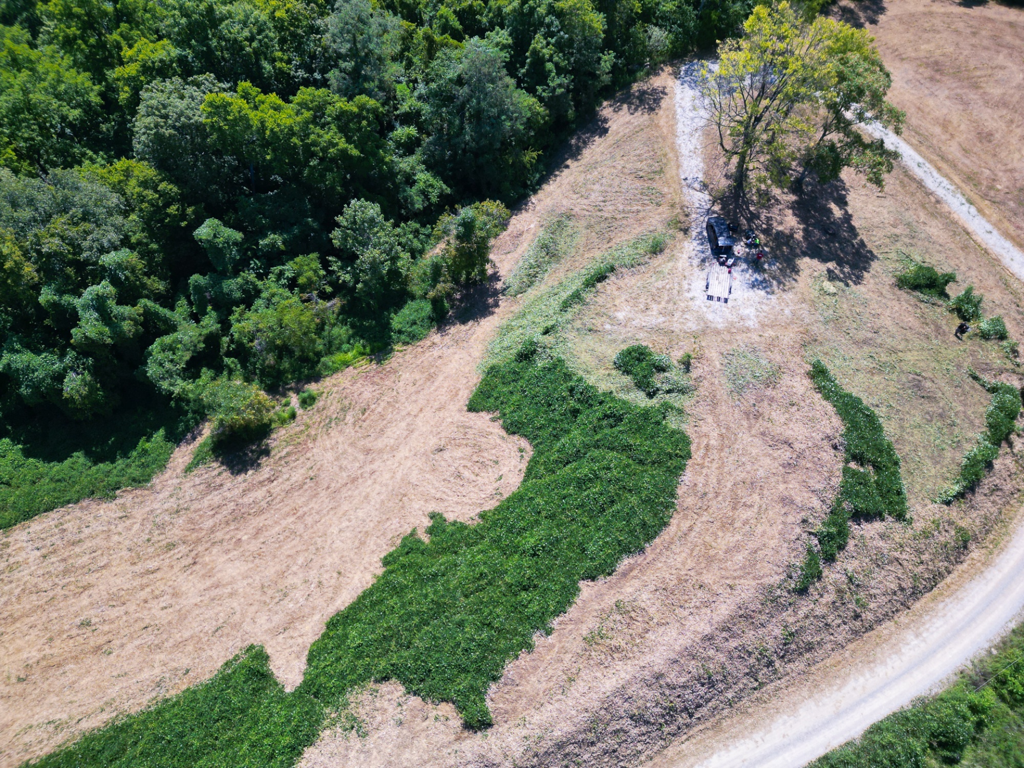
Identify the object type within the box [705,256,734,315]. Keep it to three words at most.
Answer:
trailer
